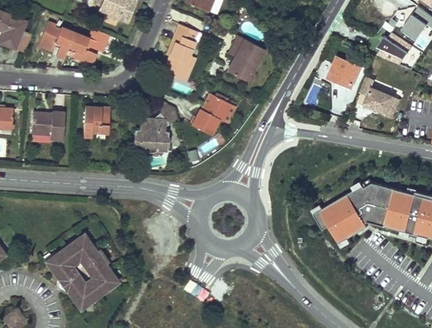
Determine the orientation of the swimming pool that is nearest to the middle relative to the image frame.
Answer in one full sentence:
Seen from above, the swimming pool that is nearest to the middle lies diagonally.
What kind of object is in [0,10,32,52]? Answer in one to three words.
house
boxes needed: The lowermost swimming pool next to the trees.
[151,152,170,170]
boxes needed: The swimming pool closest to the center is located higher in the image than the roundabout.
[198,134,223,159]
